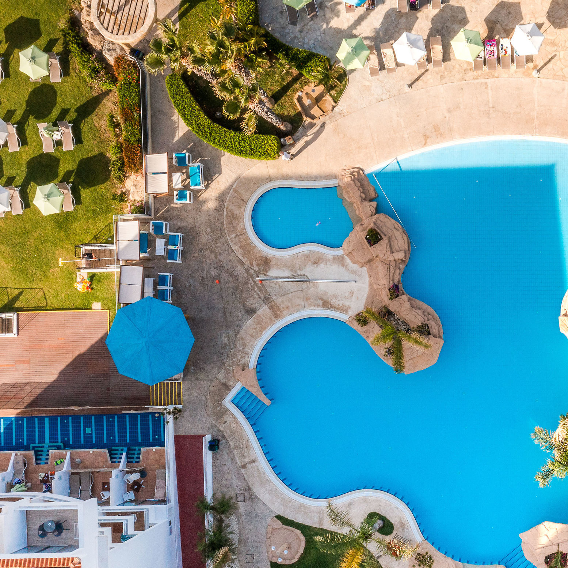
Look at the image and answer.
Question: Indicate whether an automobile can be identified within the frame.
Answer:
No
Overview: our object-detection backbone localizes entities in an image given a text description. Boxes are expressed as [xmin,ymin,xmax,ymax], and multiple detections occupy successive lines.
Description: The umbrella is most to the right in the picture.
[511,24,544,57]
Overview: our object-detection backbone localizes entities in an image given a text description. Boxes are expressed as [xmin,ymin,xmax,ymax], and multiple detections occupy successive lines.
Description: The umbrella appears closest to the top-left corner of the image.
[20,47,52,80]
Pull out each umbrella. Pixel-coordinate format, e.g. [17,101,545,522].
[105,296,196,385]
[511,24,544,57]
[338,38,369,71]
[20,47,52,80]
[451,29,482,62]
[0,187,13,215]
[35,184,66,216]
[283,0,312,10]
[394,34,425,67]
[0,118,10,147]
